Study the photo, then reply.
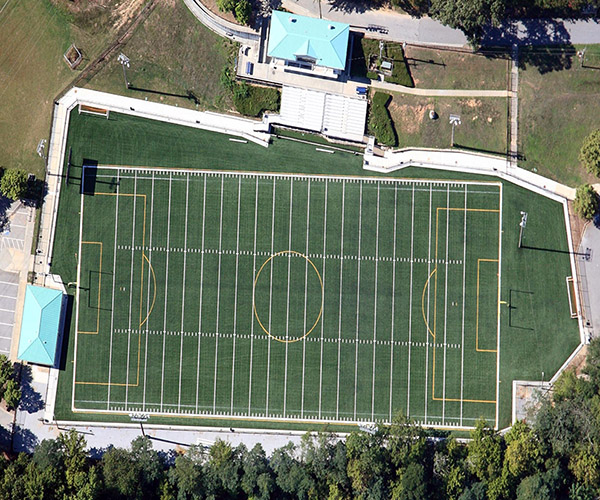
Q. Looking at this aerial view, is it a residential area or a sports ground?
sports ground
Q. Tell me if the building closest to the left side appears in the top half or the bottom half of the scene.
bottom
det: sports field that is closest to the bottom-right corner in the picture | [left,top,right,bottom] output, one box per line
[50,105,582,436]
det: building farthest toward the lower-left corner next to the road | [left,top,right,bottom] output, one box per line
[18,285,63,368]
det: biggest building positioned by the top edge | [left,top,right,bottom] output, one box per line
[267,10,350,81]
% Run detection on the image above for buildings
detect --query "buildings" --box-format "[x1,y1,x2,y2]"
[267,10,350,81]
[18,285,63,368]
